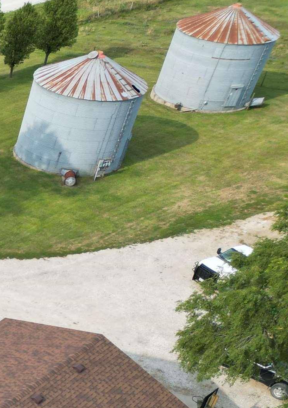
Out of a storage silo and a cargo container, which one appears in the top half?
storage silo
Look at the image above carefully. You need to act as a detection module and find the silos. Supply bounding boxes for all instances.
[150,1,282,115]
[12,51,149,178]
